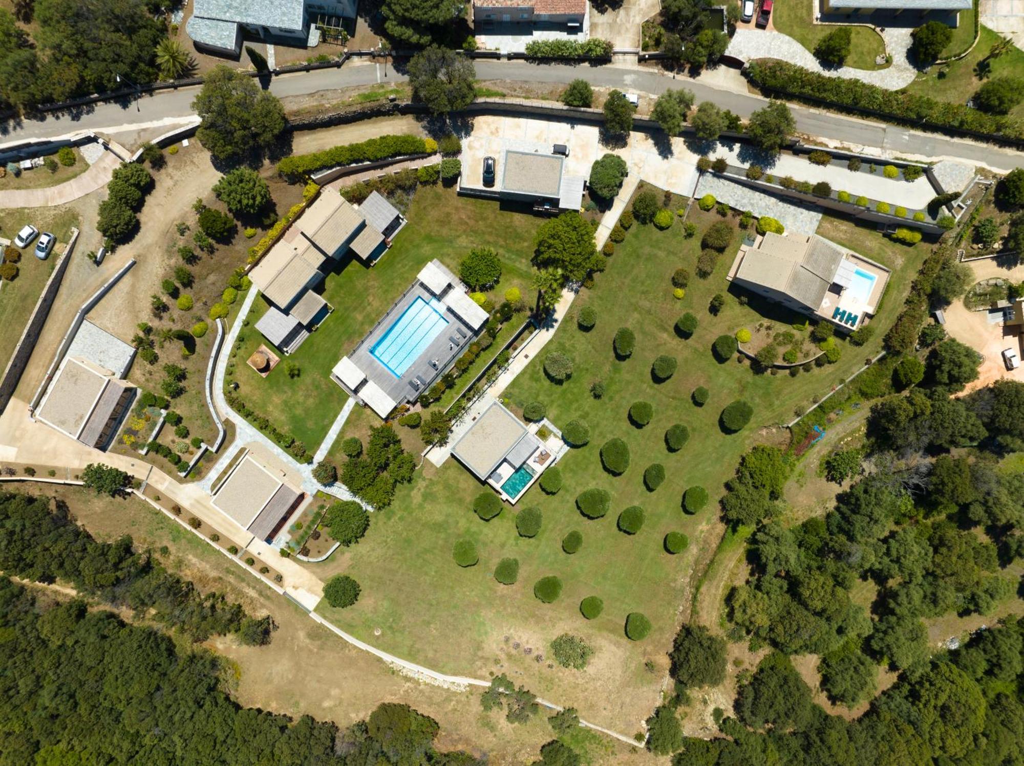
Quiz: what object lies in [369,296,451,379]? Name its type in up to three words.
swimming pool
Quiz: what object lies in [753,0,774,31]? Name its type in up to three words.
truck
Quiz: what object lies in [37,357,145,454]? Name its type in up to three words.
building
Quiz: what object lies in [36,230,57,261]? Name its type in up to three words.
car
